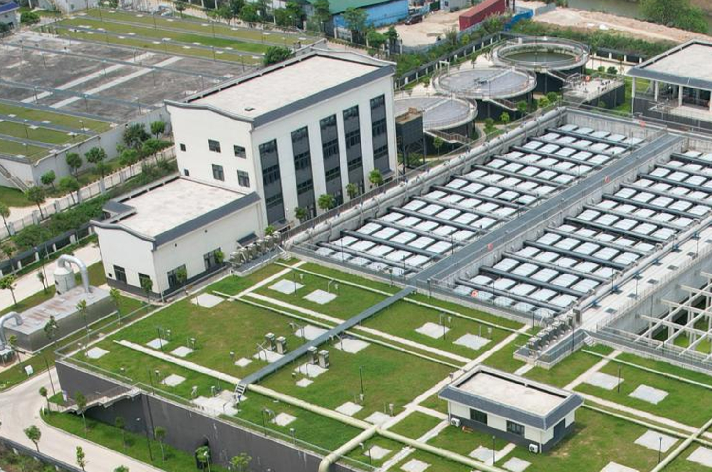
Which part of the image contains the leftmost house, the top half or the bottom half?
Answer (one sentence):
The top half of the photo is where the leftmost house is.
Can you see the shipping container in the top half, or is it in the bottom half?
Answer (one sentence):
You can find the shipping container in the top half.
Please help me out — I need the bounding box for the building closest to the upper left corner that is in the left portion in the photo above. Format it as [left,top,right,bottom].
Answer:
[0,4,20,32]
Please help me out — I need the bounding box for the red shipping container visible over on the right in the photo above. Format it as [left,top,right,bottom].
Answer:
[459,0,511,28]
